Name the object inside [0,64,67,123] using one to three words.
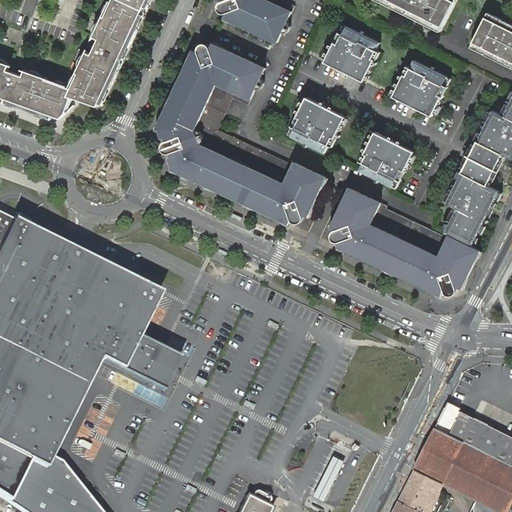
building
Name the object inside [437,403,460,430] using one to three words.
shed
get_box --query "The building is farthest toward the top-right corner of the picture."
[470,19,512,70]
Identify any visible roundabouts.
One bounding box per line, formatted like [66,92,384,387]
[56,130,149,224]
